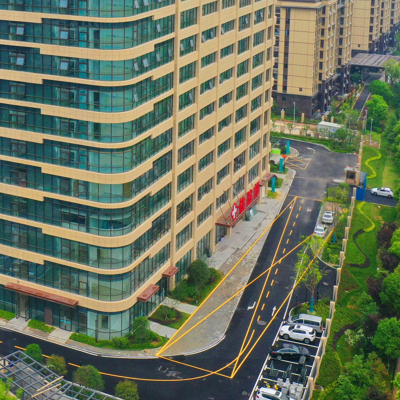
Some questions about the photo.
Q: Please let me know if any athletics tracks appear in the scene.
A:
No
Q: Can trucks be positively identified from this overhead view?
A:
No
